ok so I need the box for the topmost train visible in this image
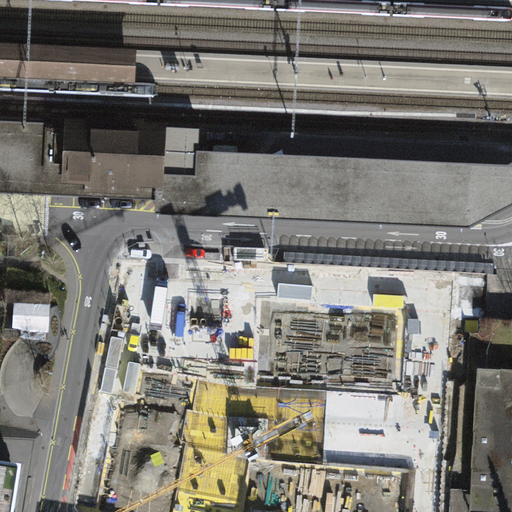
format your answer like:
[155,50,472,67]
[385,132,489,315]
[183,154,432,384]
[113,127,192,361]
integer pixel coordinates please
[25,0,511,21]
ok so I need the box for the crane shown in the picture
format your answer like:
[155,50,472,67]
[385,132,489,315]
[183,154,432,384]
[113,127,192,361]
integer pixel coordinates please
[111,405,314,512]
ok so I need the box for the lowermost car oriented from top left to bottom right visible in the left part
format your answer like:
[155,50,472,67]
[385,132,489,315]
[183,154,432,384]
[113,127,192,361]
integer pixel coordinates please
[61,226,81,250]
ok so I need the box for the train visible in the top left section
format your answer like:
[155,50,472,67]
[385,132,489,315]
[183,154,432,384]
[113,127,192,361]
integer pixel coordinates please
[0,78,155,102]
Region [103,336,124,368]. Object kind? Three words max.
building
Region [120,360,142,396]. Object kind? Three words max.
building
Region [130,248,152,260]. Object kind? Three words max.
vehicle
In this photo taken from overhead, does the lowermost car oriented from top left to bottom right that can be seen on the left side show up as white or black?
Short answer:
black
